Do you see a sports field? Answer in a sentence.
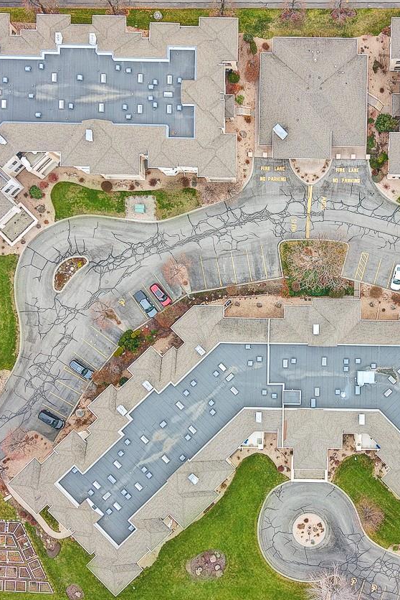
No, no sports field is visible in the view.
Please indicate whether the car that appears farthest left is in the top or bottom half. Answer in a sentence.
The car that appears farthest left sits in the bottom half of the picture.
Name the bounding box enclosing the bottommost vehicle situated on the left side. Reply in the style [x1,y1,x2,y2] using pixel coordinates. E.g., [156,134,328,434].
[37,408,65,431]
